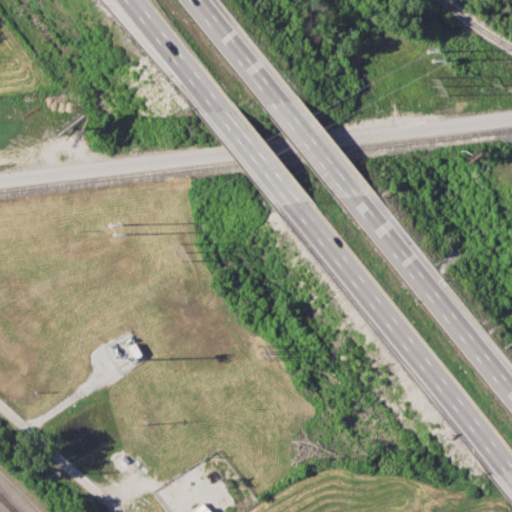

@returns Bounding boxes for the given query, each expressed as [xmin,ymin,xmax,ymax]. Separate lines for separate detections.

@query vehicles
[192,0,200,7]
[332,238,342,248]
[166,43,176,54]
